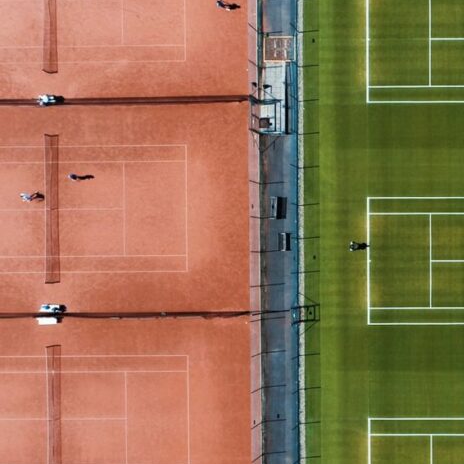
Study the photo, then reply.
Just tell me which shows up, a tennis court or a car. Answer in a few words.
tennis court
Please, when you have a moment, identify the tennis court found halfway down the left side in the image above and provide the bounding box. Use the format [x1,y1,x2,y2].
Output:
[0,144,189,273]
